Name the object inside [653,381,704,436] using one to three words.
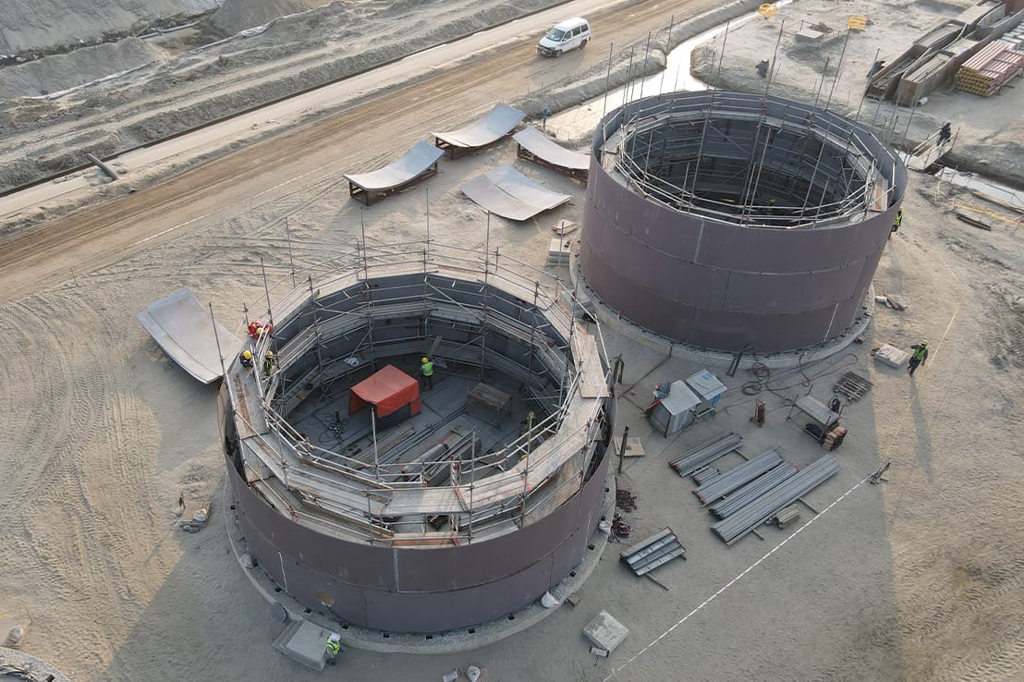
shed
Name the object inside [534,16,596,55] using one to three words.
van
